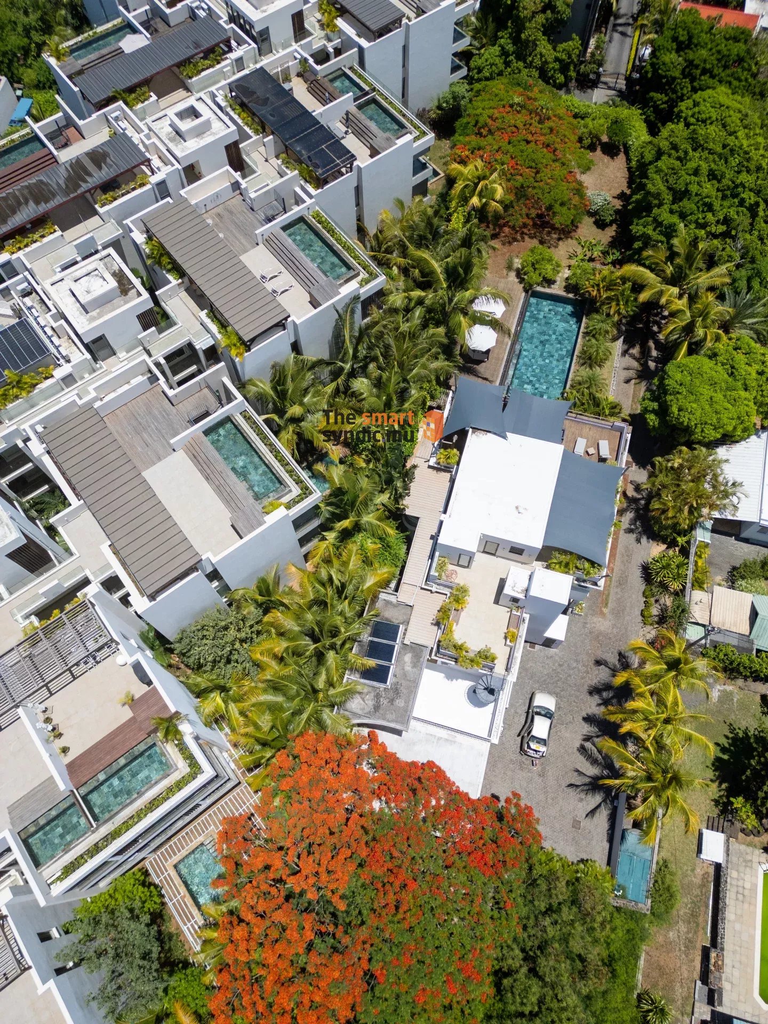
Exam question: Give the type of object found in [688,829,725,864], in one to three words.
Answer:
shed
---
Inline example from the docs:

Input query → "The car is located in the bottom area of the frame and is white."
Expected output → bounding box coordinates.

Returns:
[519,691,556,761]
